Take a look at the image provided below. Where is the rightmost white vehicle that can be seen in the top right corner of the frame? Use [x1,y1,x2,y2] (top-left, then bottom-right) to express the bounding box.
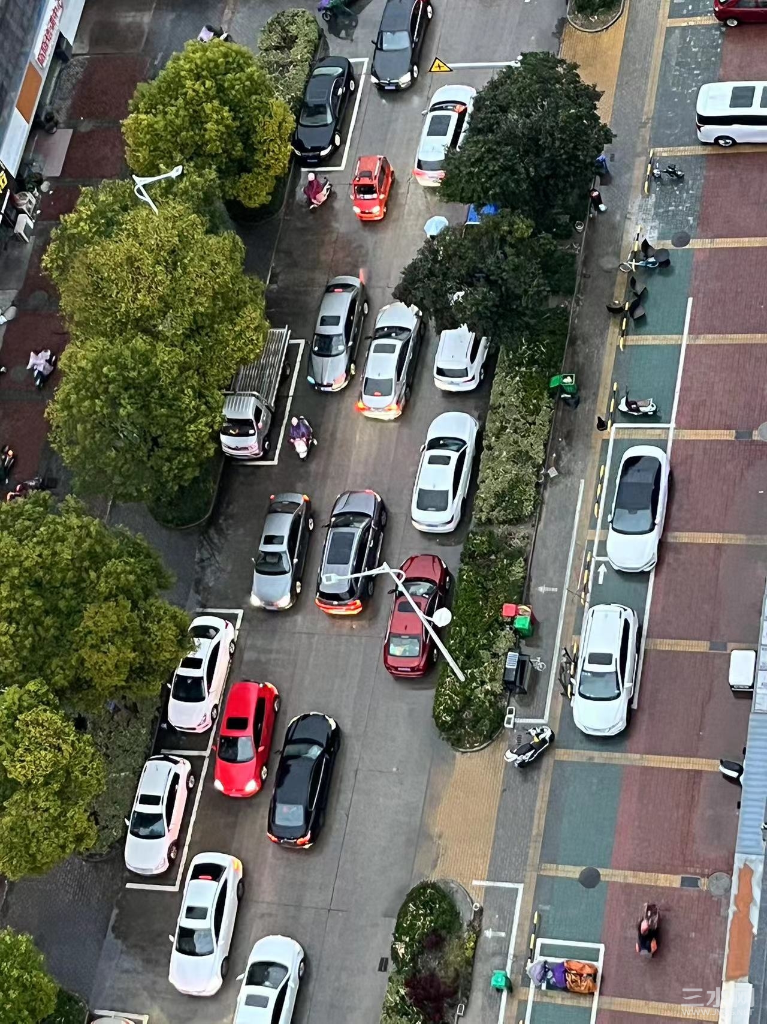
[702,79,767,143]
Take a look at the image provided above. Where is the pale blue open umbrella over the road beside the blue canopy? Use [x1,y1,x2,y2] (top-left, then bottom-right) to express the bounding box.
[423,216,451,241]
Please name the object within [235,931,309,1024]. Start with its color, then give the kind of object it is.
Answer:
white car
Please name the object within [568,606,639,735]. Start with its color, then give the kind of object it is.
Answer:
white car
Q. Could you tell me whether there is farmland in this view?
No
